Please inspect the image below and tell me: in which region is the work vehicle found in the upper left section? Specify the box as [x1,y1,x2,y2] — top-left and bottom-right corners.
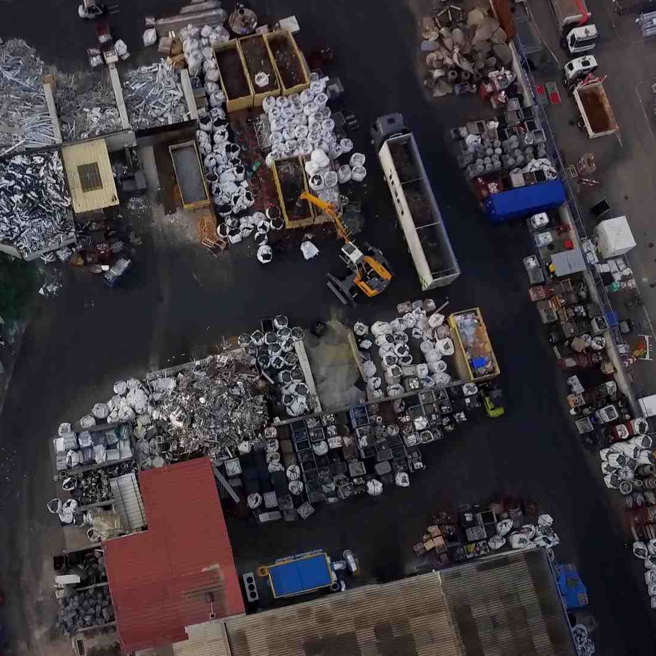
[77,0,114,21]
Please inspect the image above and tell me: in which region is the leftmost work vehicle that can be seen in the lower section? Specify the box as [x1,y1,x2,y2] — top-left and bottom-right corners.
[472,382,503,419]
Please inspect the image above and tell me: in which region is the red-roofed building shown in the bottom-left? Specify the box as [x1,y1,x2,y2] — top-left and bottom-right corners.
[102,457,246,654]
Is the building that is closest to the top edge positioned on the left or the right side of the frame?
left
